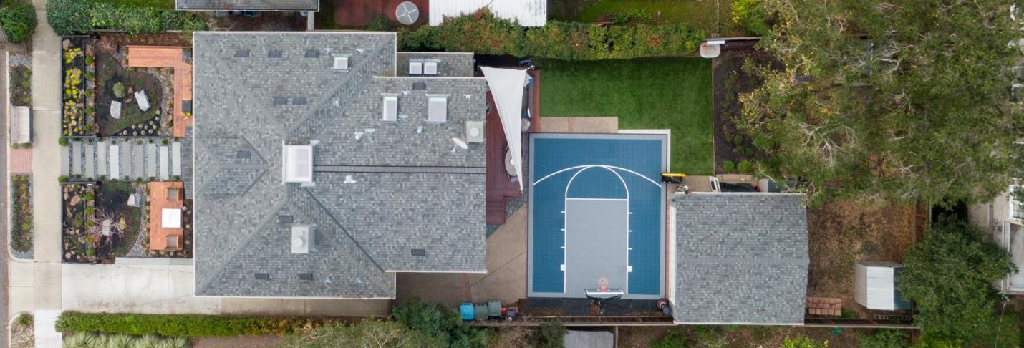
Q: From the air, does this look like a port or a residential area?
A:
residential area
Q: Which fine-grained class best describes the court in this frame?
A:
basketball court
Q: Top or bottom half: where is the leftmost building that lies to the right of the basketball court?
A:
bottom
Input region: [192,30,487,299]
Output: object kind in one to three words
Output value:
house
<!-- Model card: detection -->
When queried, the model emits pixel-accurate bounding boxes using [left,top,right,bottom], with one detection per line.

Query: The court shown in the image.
[528,134,670,299]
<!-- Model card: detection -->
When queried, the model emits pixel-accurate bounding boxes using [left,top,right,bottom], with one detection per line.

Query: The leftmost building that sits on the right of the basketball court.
[669,191,812,326]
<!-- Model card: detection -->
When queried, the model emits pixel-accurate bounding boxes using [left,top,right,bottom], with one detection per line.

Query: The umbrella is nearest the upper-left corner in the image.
[395,1,420,25]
